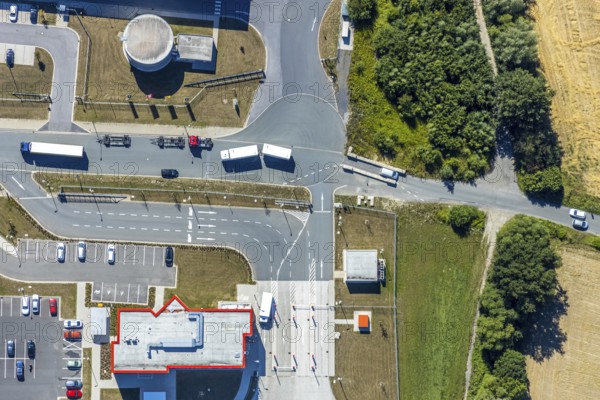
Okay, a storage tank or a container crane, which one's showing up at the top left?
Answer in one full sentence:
It is a storage tank that can be seen at the top left.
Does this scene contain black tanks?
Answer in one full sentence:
No, the scene contains no black tank.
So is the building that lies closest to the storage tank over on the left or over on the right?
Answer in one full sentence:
The building that lies closest to the storage tank appears in the left half of the scene.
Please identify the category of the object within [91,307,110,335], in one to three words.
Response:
shed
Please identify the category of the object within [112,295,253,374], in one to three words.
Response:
building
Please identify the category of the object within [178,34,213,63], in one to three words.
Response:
building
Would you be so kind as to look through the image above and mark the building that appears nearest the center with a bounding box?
[346,249,377,281]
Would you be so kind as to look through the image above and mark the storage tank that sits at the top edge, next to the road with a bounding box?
[116,15,182,71]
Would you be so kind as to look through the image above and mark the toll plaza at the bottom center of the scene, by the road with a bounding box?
[237,281,335,400]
